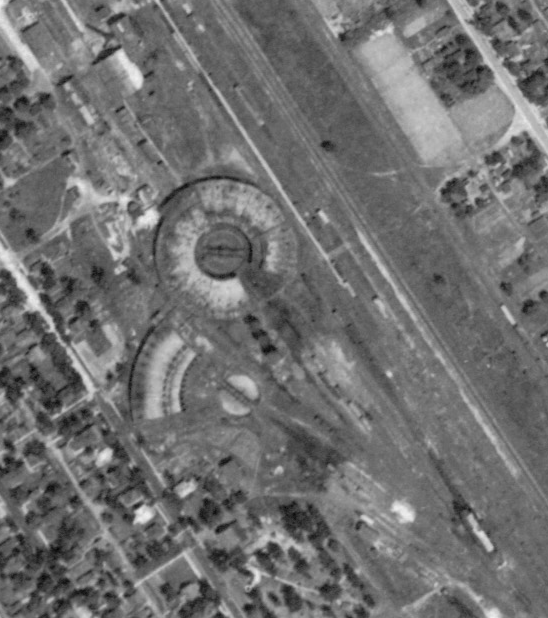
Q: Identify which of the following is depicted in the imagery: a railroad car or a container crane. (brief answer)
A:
railroad car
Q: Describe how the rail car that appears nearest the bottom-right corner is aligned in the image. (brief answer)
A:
diagonally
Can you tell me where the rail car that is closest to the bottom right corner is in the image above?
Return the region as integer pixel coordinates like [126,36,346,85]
[476,530,495,552]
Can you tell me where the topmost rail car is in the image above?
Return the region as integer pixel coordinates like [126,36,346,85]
[500,305,517,325]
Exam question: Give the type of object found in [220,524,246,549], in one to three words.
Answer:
barn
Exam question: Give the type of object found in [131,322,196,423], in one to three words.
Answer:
shed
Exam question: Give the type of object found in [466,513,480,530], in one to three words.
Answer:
rail car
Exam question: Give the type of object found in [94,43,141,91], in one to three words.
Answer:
building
